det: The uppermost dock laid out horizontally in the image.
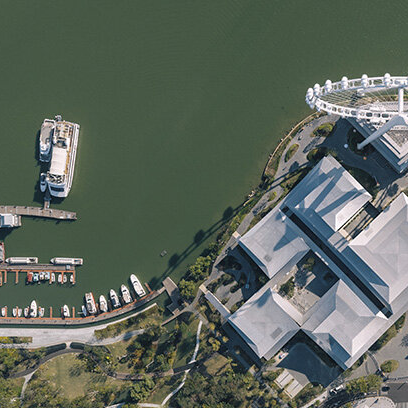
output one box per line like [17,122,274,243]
[0,205,77,220]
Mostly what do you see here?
water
